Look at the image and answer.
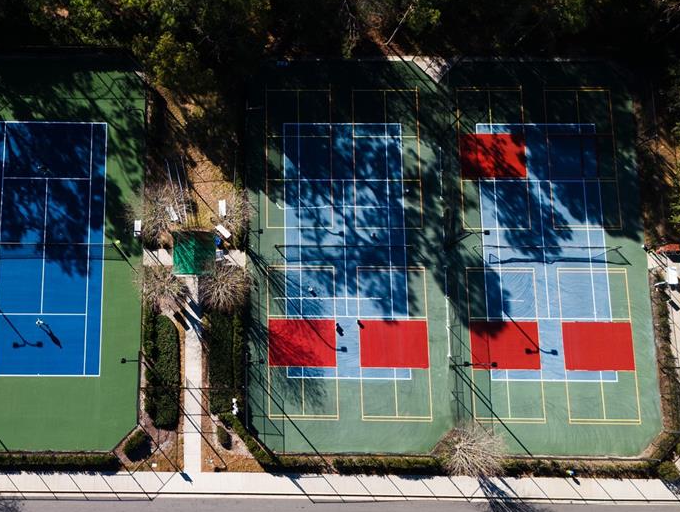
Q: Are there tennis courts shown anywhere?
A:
Yes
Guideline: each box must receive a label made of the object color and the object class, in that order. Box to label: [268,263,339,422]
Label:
red sports court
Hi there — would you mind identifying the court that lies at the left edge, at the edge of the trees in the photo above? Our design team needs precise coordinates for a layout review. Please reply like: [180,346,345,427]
[0,63,147,453]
